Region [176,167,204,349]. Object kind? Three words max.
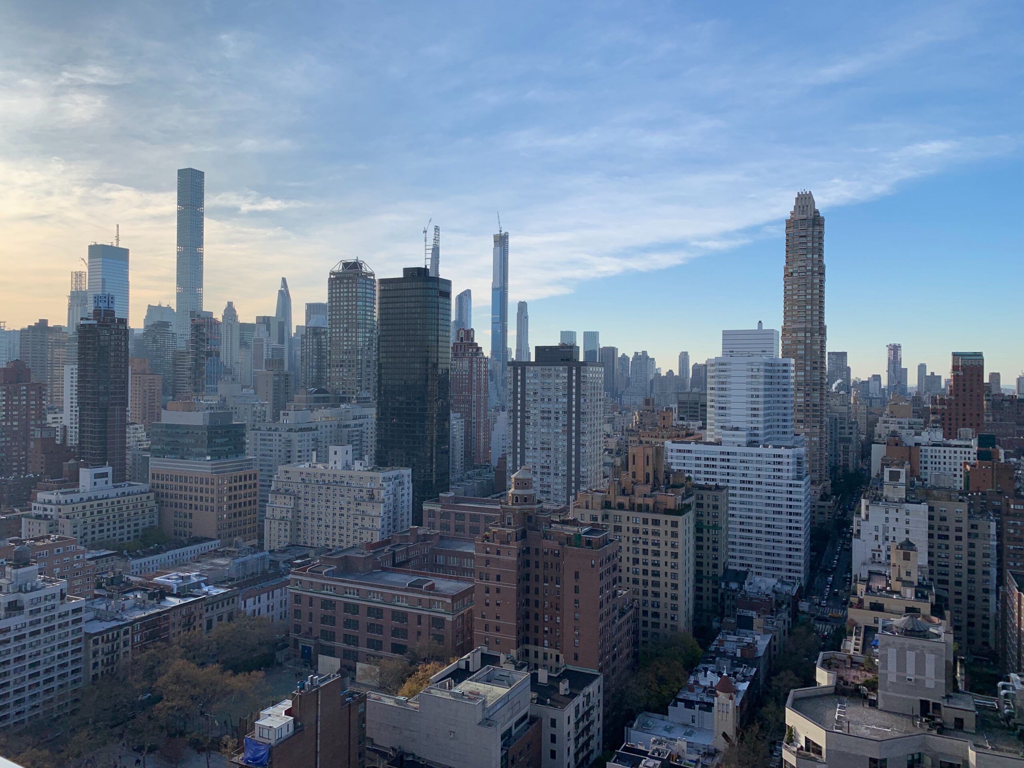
building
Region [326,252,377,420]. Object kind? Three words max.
building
